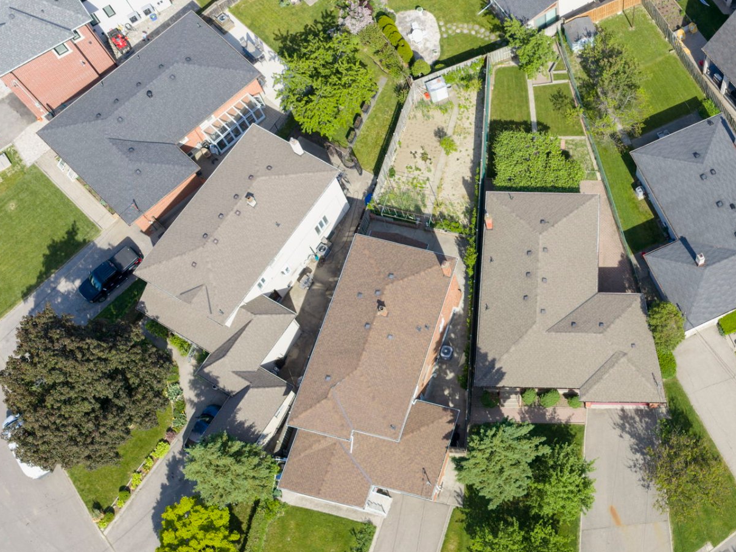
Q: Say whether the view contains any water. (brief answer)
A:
No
